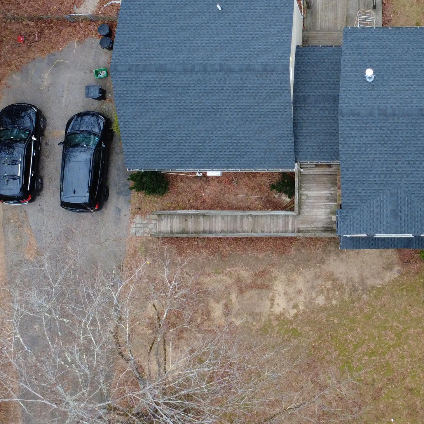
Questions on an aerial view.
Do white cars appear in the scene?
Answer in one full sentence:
No, no white car is visible in the scene.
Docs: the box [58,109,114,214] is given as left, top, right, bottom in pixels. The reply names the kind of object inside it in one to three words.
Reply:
car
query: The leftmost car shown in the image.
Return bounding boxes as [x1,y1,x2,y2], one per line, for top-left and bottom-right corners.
[0,101,48,206]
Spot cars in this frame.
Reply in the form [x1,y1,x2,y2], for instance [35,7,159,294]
[0,101,48,206]
[58,109,114,214]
